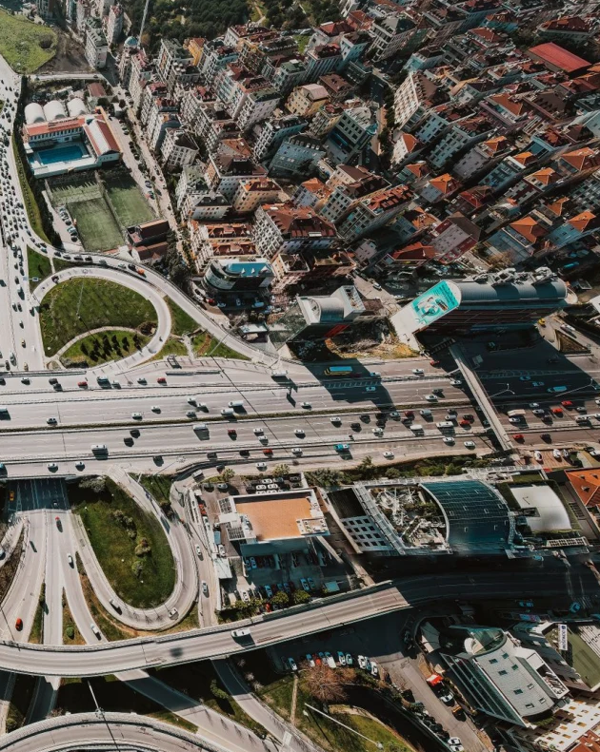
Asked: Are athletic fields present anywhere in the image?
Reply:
Yes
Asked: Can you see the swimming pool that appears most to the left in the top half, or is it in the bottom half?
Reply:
top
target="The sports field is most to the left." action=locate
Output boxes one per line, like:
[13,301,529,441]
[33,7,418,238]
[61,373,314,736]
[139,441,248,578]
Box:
[54,176,119,250]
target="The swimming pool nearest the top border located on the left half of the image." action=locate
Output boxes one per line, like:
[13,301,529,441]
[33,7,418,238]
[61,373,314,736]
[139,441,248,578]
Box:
[36,144,87,164]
